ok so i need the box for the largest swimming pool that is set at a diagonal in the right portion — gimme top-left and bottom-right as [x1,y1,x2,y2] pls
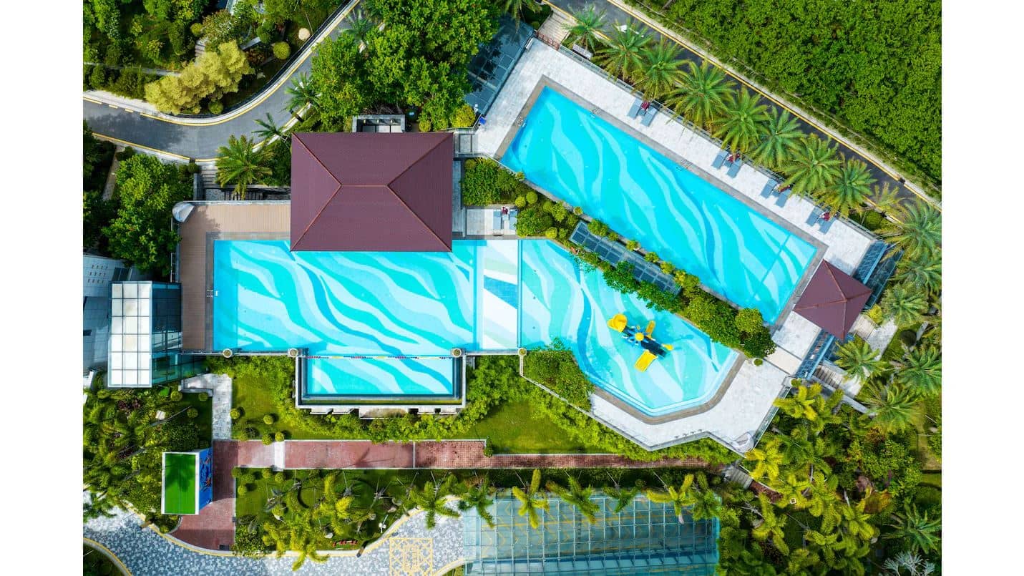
[500,87,818,324]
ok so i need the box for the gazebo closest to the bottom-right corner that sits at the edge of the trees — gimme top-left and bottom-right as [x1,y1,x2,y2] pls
[785,258,873,340]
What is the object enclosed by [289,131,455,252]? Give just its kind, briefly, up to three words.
building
